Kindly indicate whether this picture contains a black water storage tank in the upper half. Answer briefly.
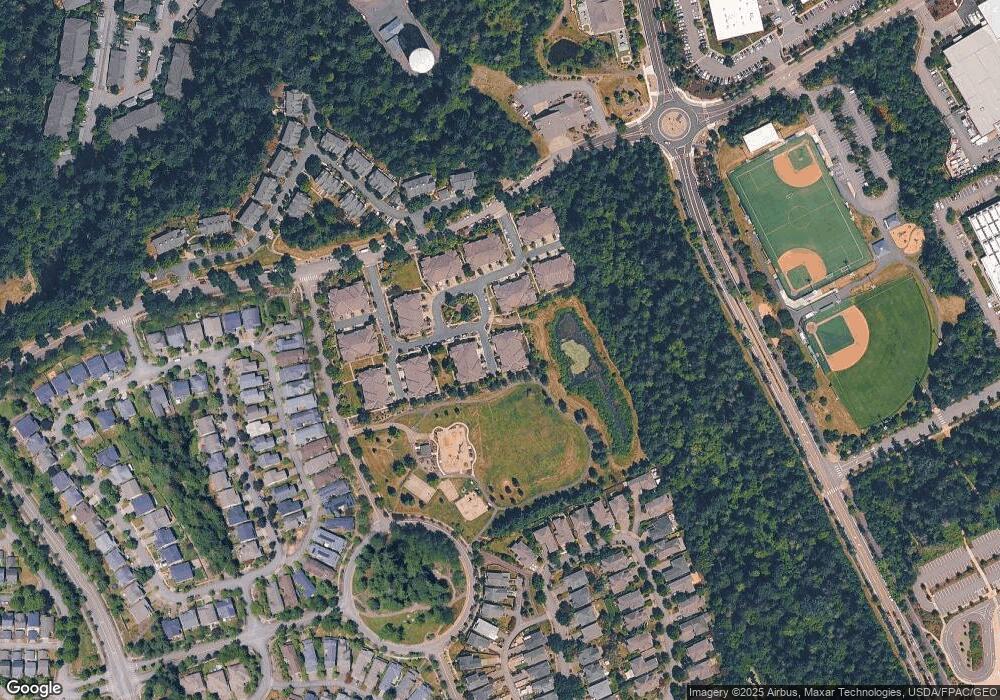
No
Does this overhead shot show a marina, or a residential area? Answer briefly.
residential area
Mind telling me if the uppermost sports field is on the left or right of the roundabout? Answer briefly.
right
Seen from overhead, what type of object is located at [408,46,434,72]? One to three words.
water tank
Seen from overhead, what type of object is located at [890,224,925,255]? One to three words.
playground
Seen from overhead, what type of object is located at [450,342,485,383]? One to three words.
building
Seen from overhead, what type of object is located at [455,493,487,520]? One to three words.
sports court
